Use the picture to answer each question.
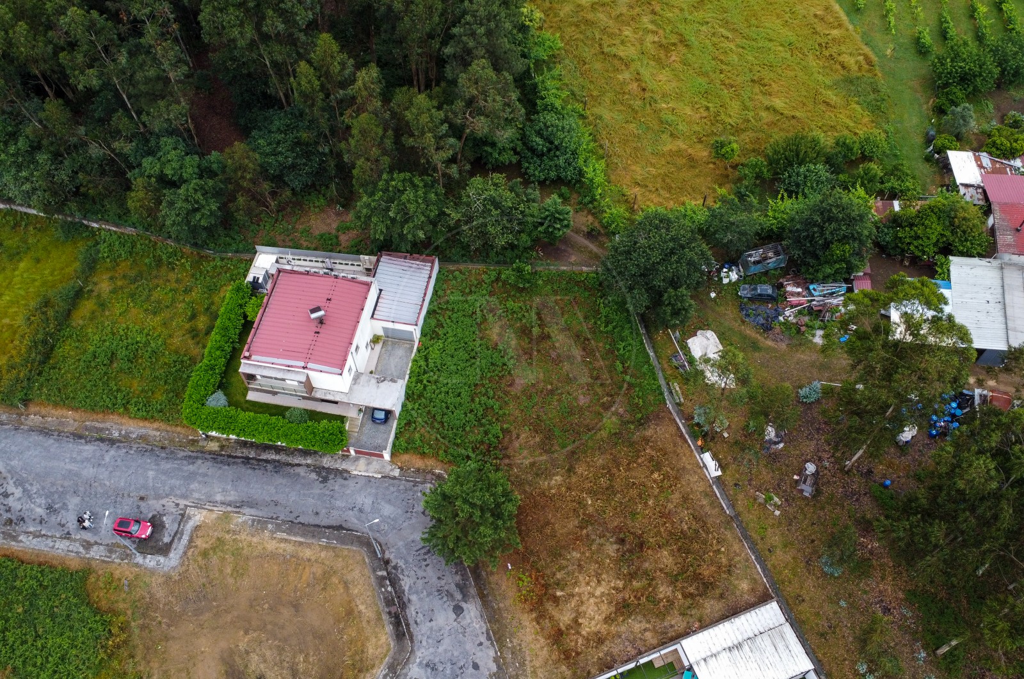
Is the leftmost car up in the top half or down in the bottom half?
bottom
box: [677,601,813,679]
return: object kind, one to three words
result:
shed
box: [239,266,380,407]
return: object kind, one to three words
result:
house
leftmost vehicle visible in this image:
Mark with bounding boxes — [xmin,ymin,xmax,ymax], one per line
[110,514,158,543]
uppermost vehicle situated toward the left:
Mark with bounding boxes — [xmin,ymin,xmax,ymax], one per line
[372,407,392,423]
